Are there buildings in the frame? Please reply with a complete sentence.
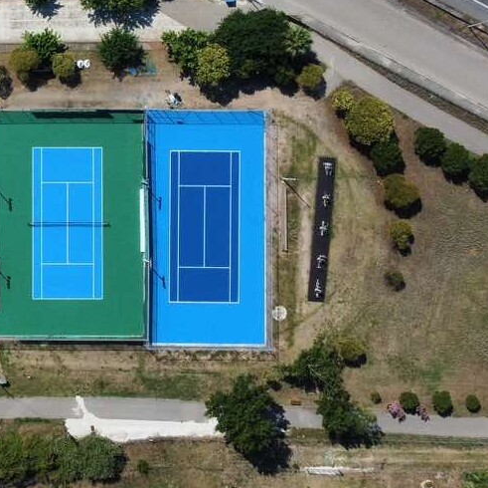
No, no building is visible in the scene.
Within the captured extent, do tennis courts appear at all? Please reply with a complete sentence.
Yes, a tennis court appears in the view.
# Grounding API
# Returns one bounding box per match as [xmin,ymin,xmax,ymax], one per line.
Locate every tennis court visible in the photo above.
[0,114,144,336]
[150,113,265,345]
